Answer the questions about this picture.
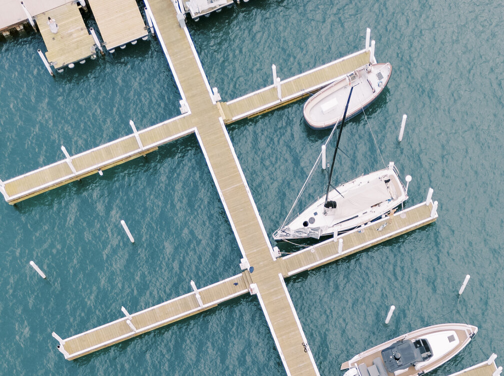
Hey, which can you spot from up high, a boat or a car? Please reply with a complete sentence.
Of the two, only a boat appears.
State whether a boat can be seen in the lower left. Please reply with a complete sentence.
No, there's no boat to be seen in the lower left.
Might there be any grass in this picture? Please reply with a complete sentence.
No, there's no grass in this view.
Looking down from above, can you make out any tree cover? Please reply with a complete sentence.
No, no tree cover is visible.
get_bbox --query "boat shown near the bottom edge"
[341,325,479,376]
